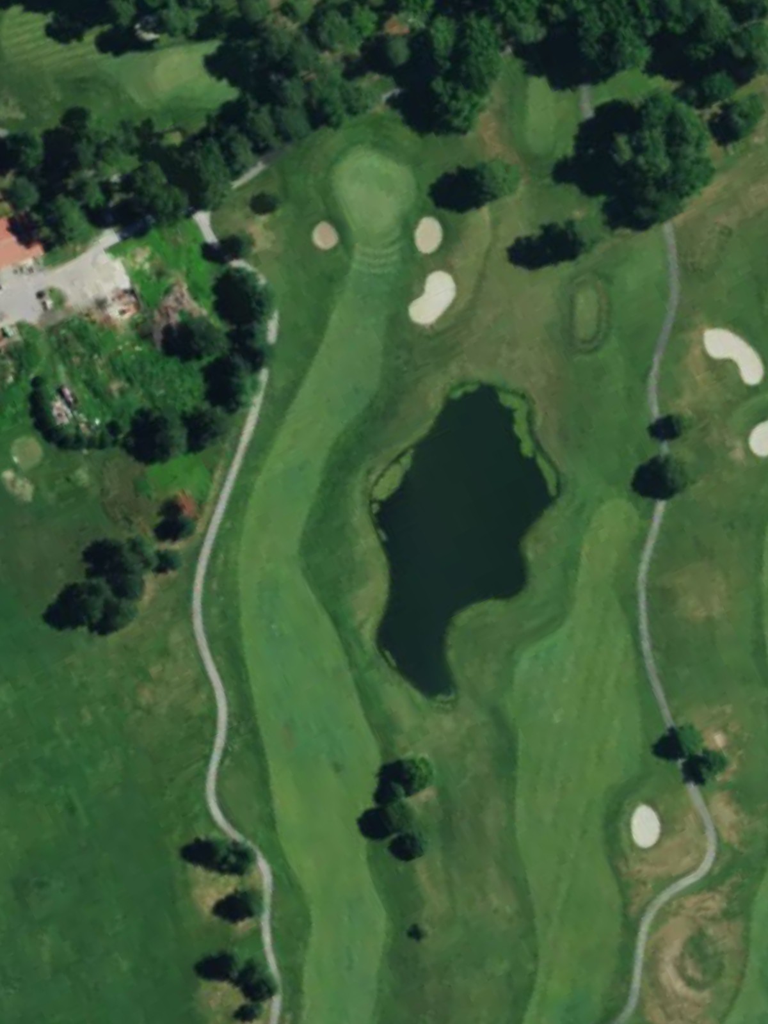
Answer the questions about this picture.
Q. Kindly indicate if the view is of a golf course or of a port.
golf course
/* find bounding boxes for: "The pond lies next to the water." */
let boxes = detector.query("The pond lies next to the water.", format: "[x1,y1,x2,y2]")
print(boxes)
[372,384,558,698]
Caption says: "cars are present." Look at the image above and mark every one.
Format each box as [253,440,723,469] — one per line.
[61,387,73,401]
[45,297,53,309]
